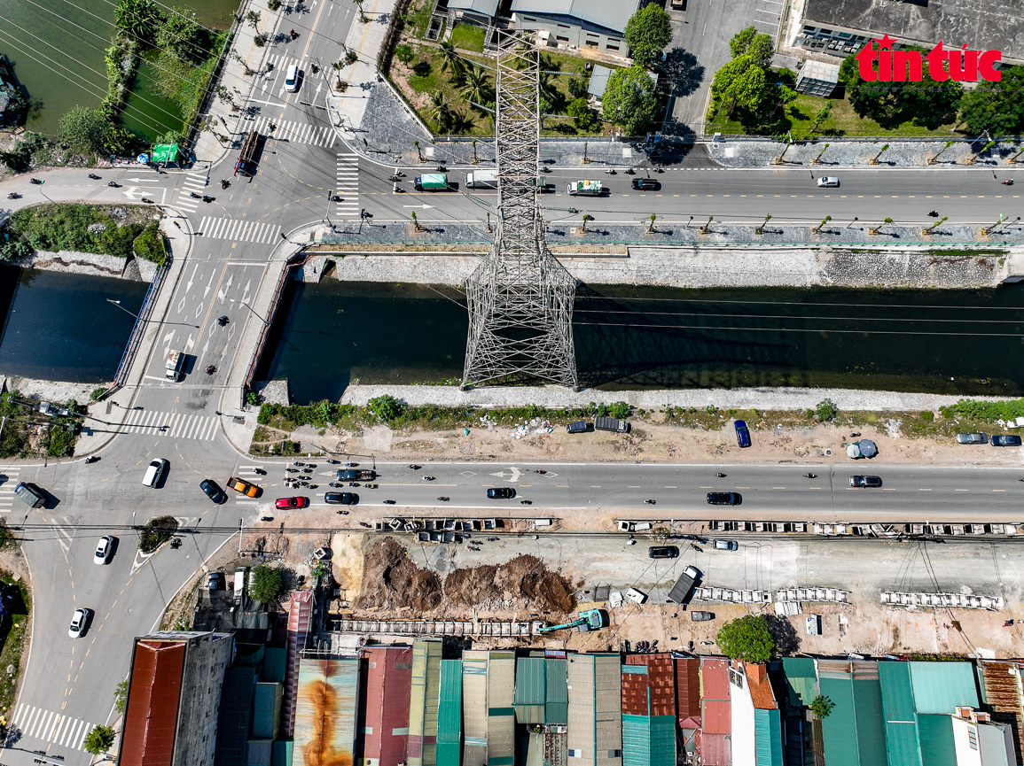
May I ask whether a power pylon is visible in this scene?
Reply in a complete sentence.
Yes, a power pylon is visible in the scene.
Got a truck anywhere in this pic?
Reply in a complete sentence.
Yes, the photo shows a truck.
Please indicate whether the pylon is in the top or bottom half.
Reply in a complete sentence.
The pylon sits in the top half of the picture.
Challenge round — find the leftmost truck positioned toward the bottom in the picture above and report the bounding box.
[12,483,48,513]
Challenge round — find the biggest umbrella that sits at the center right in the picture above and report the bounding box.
[857,439,876,458]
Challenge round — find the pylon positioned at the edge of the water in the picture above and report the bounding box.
[445,10,588,395]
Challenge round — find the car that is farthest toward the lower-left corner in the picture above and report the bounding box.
[69,607,91,639]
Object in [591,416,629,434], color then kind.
gray vehicle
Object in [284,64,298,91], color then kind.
white vehicle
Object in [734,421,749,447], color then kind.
blue car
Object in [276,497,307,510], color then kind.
red vehicle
